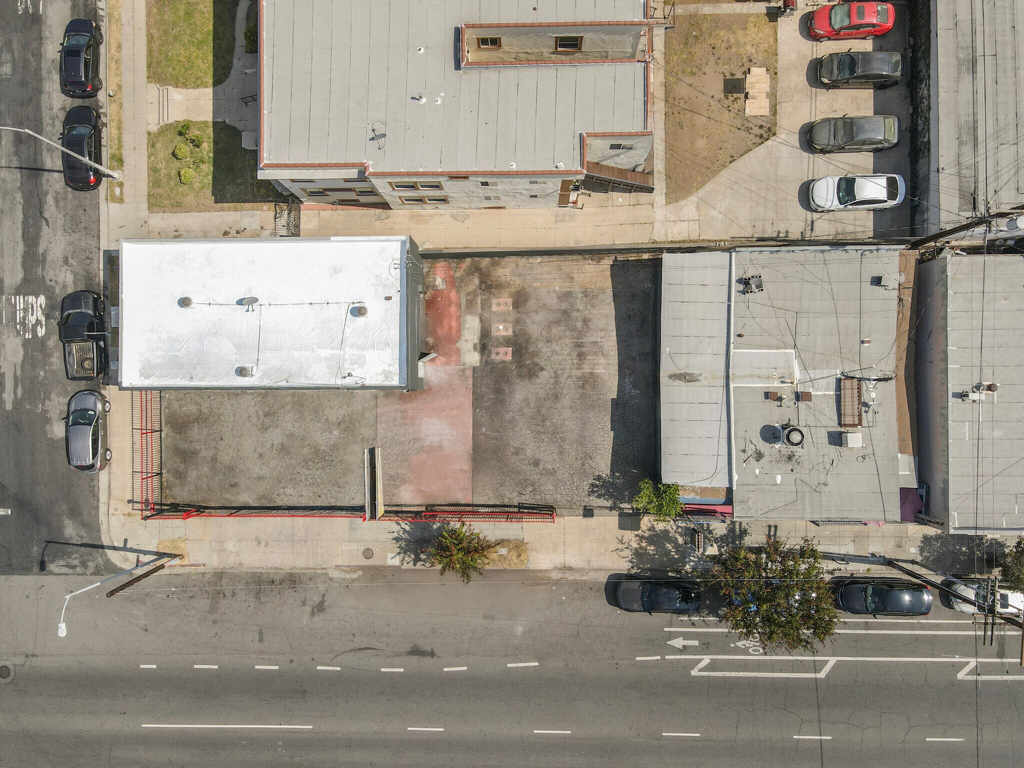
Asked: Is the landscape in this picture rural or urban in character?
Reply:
urban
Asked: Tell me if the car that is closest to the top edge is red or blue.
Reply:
red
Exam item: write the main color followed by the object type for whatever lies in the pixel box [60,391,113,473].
gray car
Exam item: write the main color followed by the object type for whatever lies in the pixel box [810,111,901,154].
gray car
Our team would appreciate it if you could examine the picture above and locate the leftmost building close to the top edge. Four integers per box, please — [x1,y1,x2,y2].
[249,0,666,214]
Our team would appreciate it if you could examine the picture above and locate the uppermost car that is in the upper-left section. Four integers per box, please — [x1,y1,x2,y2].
[54,21,106,96]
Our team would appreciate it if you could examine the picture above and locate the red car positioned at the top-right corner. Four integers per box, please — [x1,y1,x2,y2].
[810,0,896,42]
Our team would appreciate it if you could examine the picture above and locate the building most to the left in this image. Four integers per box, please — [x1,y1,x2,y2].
[120,238,439,395]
